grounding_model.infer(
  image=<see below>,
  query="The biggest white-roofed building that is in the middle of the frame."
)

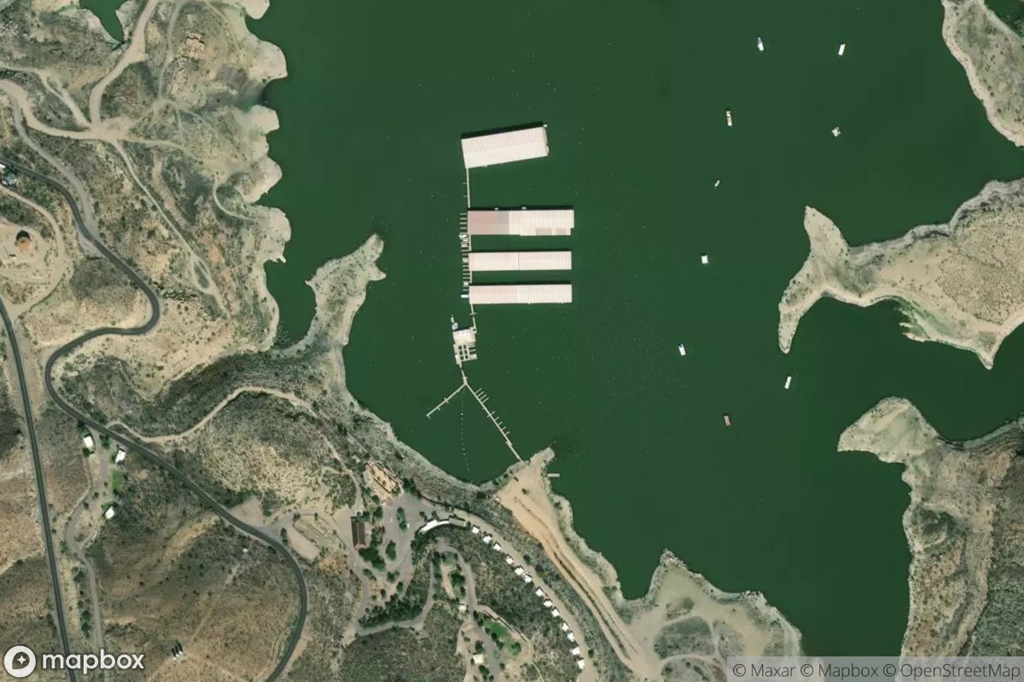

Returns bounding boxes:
[453,329,478,363]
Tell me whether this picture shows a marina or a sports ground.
marina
